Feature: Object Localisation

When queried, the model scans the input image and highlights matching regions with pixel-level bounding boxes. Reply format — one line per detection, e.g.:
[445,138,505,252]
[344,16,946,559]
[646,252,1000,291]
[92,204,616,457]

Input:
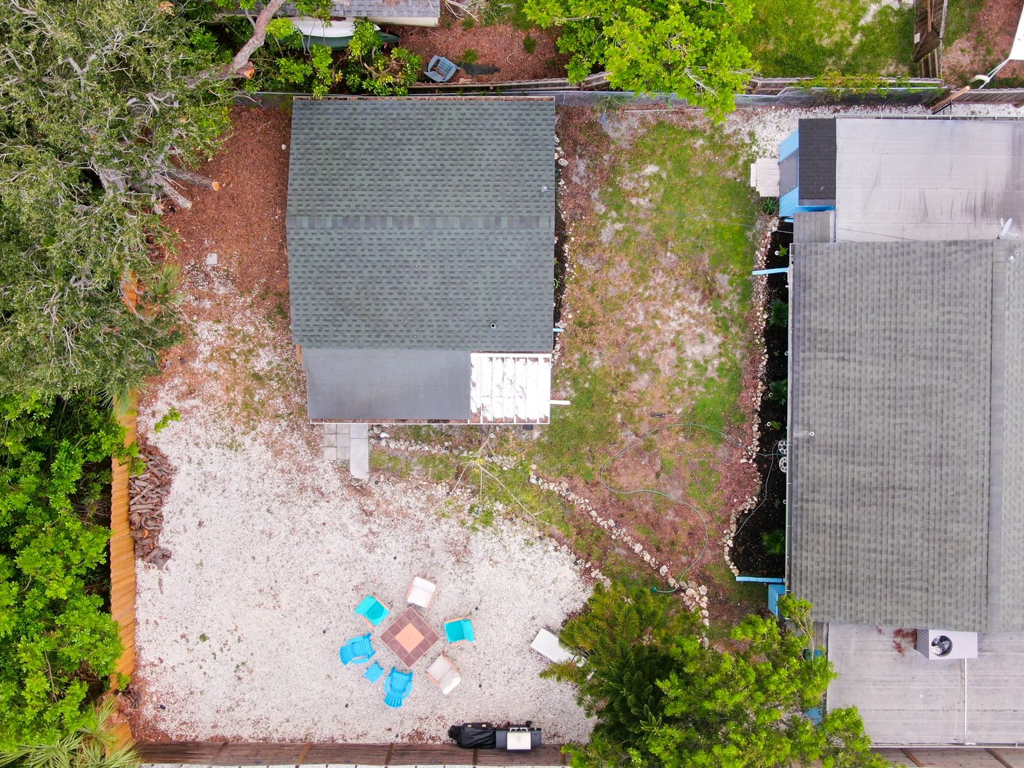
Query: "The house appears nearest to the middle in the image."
[286,95,563,425]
